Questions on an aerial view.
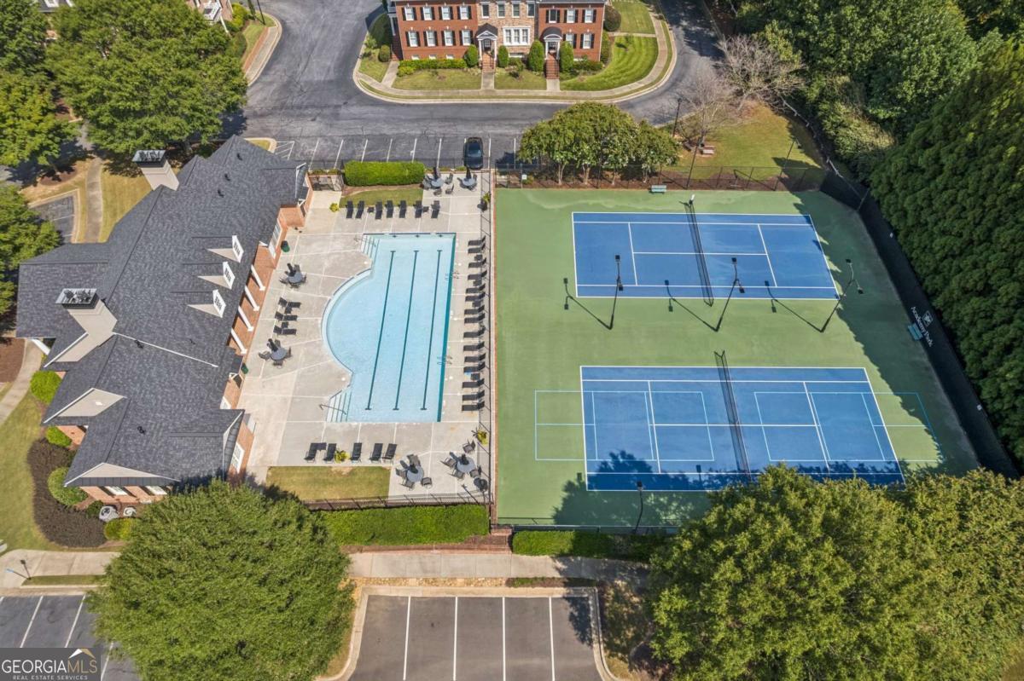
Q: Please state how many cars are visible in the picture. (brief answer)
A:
one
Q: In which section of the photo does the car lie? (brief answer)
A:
top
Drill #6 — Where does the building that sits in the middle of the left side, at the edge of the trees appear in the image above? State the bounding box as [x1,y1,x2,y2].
[14,135,315,501]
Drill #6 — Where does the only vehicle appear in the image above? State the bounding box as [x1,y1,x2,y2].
[462,135,484,168]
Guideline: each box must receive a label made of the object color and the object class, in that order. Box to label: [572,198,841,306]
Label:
blue tennis court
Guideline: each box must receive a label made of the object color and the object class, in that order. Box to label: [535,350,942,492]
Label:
blue tennis court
